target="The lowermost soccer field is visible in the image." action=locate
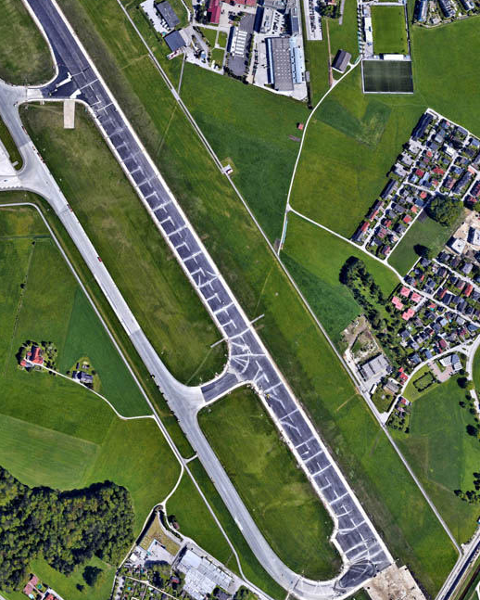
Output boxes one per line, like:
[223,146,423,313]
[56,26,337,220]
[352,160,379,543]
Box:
[361,59,413,94]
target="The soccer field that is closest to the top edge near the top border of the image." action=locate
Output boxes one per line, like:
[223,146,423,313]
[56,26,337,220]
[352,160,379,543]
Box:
[369,6,407,54]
